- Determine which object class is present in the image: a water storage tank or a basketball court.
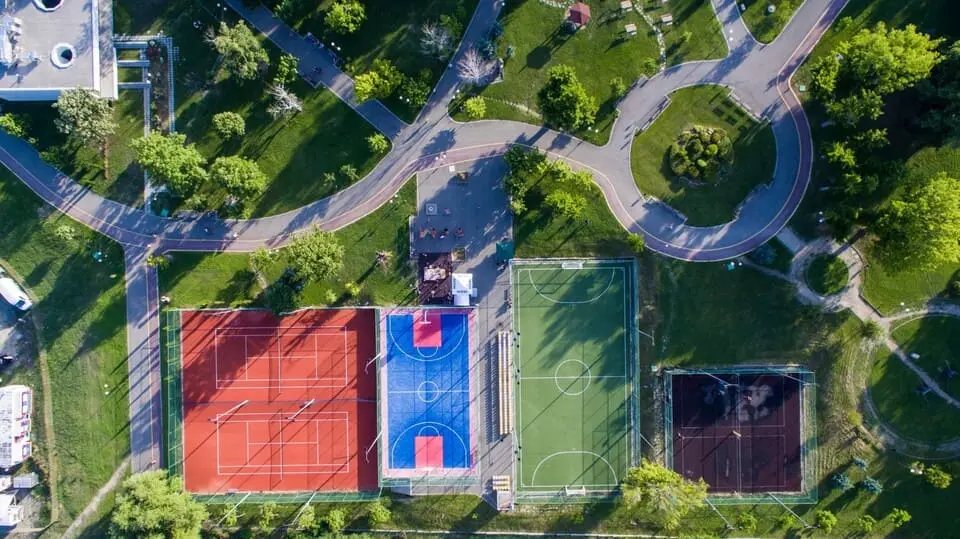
basketball court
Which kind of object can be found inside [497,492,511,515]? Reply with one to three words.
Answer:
building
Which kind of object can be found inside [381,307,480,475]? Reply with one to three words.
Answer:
basketball court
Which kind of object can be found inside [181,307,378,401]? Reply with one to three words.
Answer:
tennis court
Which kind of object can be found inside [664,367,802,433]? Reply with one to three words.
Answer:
sports court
